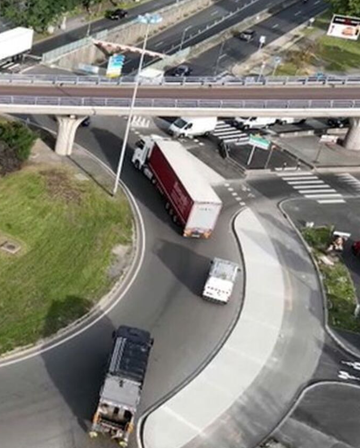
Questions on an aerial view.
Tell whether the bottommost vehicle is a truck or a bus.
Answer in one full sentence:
I'd say the bottommost vehicle is a truck.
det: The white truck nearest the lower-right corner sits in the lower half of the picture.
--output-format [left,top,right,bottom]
[203,257,241,304]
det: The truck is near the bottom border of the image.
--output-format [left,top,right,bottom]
[92,338,154,443]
